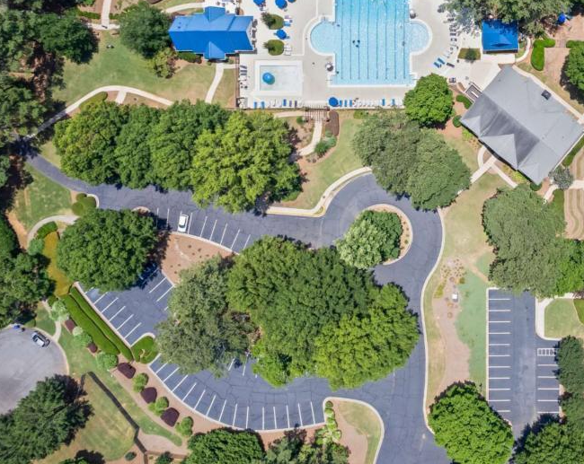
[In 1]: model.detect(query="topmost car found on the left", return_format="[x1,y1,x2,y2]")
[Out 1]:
[176,213,188,233]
